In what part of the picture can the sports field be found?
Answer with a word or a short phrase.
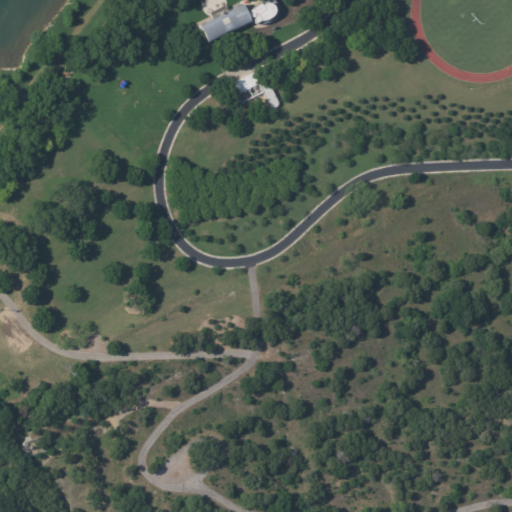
top right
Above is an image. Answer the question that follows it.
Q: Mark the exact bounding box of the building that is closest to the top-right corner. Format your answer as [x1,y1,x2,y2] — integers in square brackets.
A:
[252,2,279,24]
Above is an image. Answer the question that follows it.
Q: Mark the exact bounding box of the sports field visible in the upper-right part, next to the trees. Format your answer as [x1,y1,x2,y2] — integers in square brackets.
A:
[420,0,512,73]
